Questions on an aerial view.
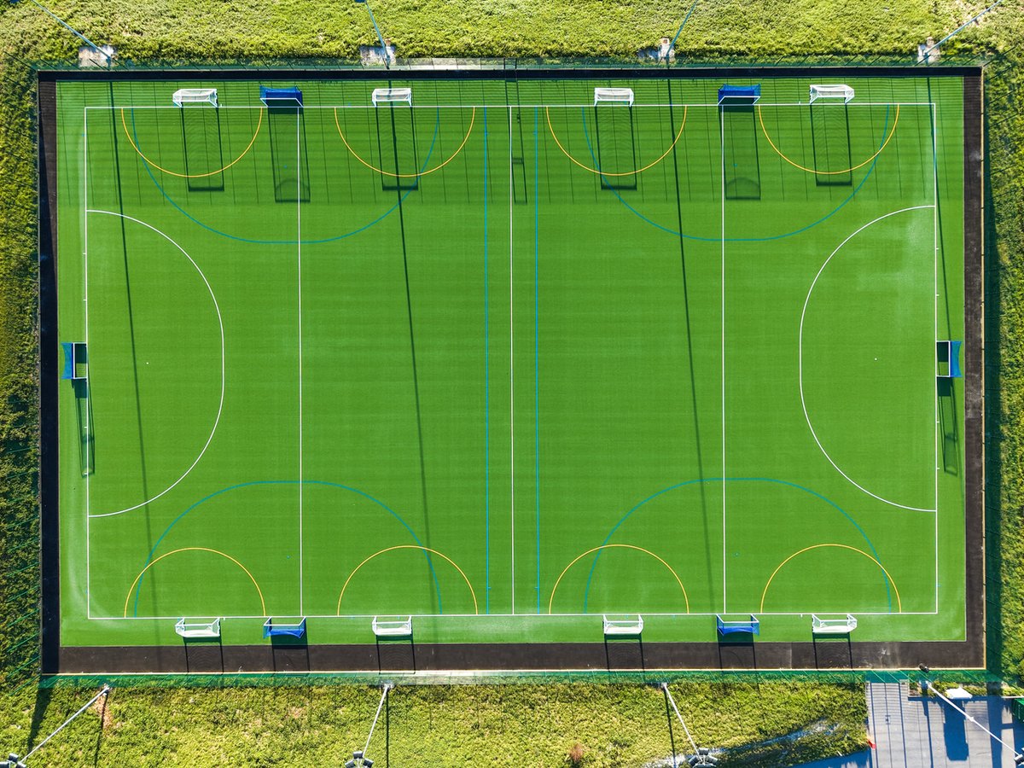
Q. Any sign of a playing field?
Yes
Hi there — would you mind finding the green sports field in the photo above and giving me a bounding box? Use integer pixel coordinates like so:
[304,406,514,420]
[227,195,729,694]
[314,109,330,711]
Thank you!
[56,77,967,646]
